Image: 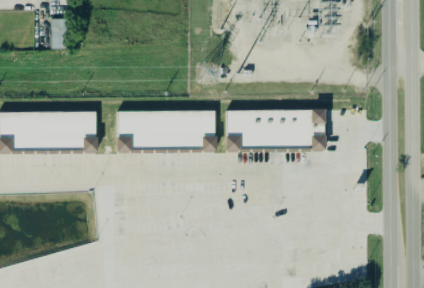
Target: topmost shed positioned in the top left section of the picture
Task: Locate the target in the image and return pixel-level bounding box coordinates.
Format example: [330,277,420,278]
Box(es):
[51,19,66,49]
